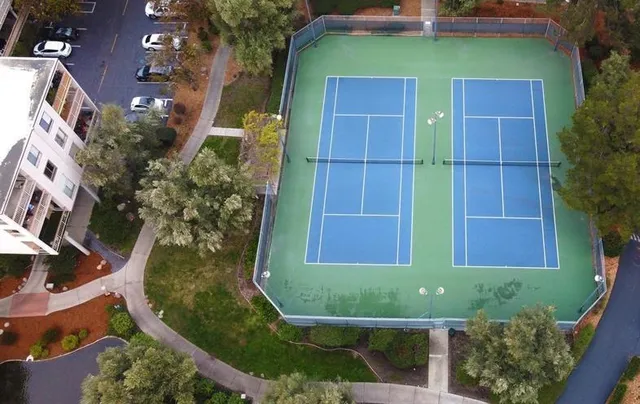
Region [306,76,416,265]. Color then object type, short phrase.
blue tennis court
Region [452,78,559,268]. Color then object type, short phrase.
blue tennis court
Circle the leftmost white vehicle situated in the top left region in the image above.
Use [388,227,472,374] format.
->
[34,41,72,59]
